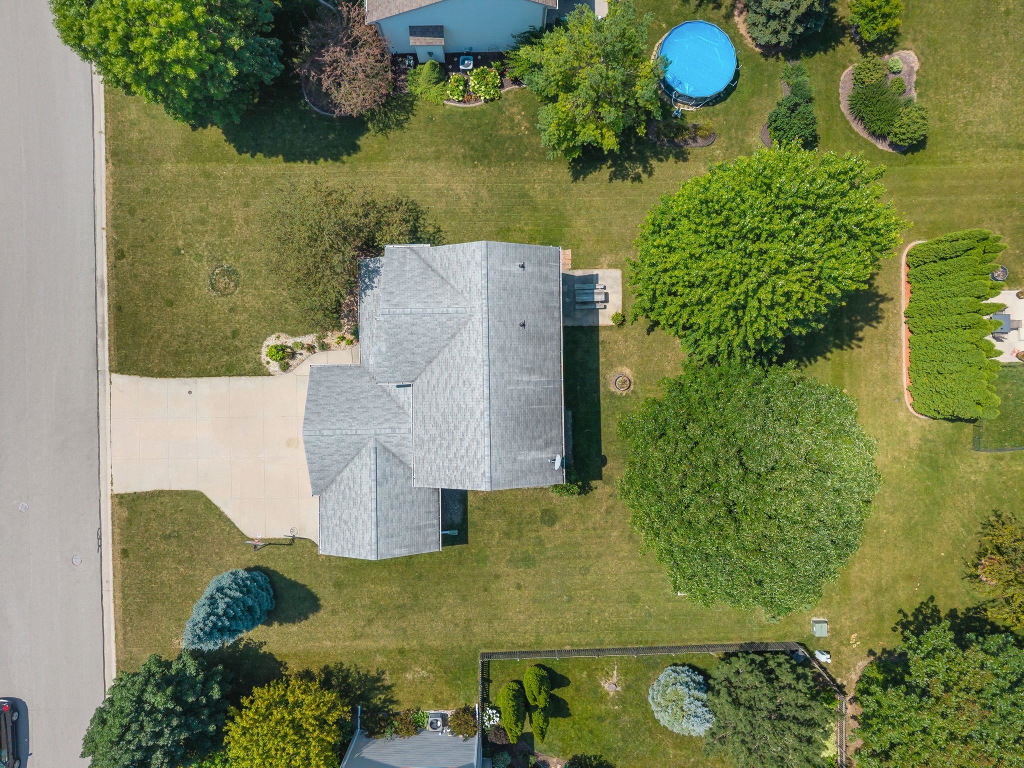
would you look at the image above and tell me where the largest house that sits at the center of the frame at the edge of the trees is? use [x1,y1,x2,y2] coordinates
[302,240,568,559]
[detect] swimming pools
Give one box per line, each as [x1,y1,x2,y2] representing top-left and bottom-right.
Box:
[652,19,742,110]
